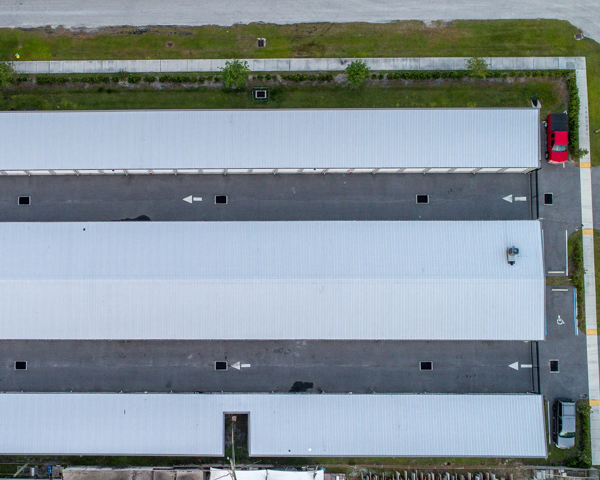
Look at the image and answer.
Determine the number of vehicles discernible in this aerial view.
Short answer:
two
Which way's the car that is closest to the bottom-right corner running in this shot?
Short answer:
from top to bottom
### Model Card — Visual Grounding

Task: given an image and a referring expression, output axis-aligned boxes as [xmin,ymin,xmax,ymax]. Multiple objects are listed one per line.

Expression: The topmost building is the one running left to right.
[0,107,541,178]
